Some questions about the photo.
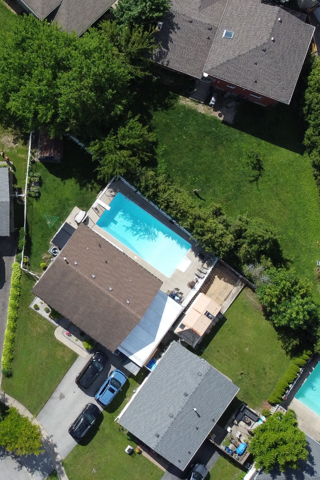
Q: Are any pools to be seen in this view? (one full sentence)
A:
Yes, the image includes a pool.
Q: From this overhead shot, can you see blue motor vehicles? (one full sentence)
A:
Yes, looking at the shot, I can spot a blue motor vehicle.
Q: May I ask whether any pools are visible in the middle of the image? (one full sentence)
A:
Yes, I can see a pool in the middle of the image.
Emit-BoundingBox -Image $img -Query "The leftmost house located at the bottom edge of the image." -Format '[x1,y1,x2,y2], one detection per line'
[116,340,240,471]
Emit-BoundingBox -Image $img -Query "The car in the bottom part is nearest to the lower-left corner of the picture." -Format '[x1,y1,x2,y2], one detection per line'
[68,401,101,444]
